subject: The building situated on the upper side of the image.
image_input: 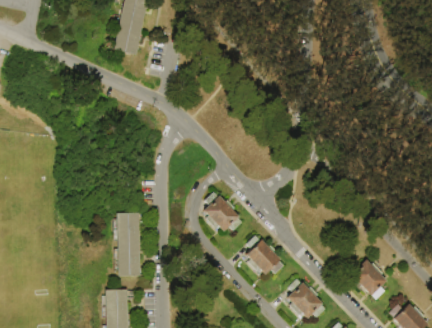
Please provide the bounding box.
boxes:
[115,0,146,54]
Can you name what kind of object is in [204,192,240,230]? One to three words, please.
house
